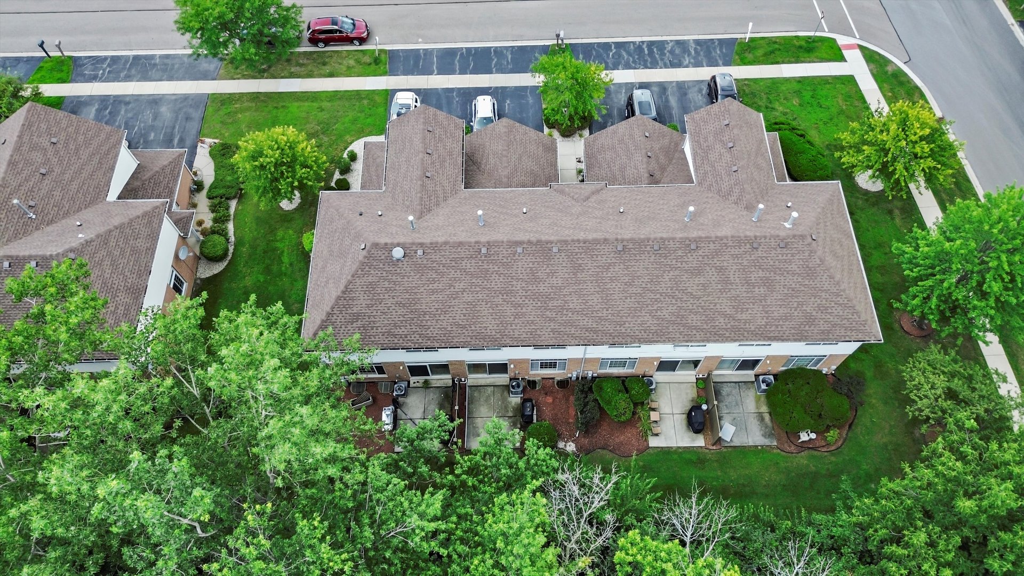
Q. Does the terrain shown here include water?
No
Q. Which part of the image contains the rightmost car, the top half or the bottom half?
top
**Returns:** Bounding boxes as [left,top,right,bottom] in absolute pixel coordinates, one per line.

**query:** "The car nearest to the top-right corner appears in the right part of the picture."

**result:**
[702,76,737,105]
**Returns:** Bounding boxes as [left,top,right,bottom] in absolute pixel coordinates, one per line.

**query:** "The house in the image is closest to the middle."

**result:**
[304,97,886,391]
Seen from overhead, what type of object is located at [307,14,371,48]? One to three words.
car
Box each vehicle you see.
[702,76,737,105]
[469,95,500,134]
[307,14,371,48]
[394,93,422,118]
[624,92,660,125]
